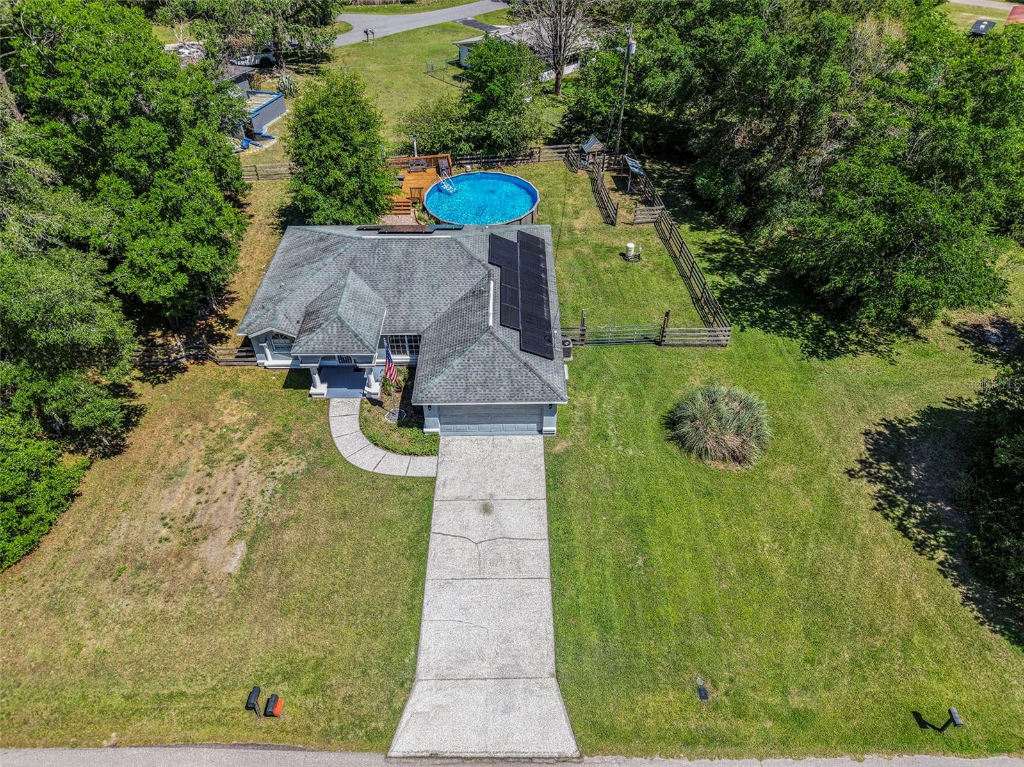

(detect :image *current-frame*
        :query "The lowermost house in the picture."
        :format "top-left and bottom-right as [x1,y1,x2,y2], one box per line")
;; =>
[238,224,567,436]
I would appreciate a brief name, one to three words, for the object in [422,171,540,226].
swimming pool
